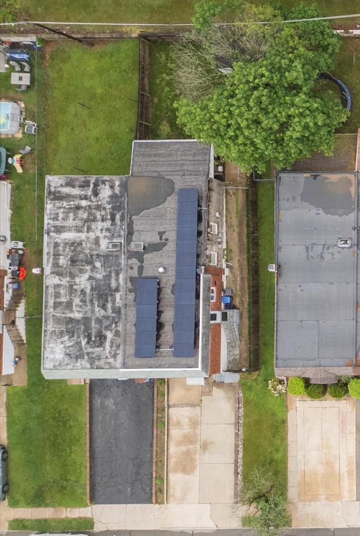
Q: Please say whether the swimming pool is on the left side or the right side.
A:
left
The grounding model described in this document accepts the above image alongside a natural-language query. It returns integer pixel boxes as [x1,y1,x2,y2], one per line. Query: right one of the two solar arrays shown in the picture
[172,189,199,357]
